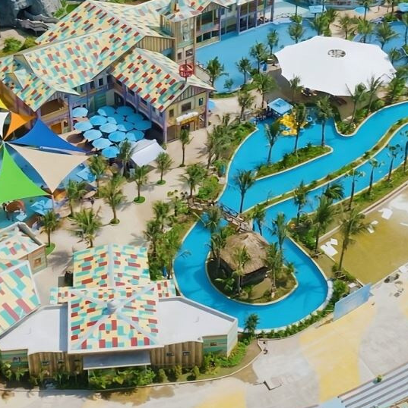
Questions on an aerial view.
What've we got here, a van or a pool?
pool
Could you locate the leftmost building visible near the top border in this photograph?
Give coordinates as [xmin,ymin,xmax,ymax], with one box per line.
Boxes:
[0,0,276,147]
